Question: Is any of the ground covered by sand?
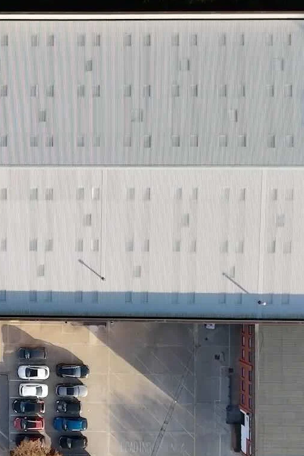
No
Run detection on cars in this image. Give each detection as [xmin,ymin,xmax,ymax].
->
[58,435,88,449]
[12,400,45,415]
[13,417,44,430]
[55,399,83,414]
[57,363,88,379]
[17,365,50,381]
[54,416,87,431]
[55,383,87,399]
[18,382,48,398]
[18,346,48,362]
